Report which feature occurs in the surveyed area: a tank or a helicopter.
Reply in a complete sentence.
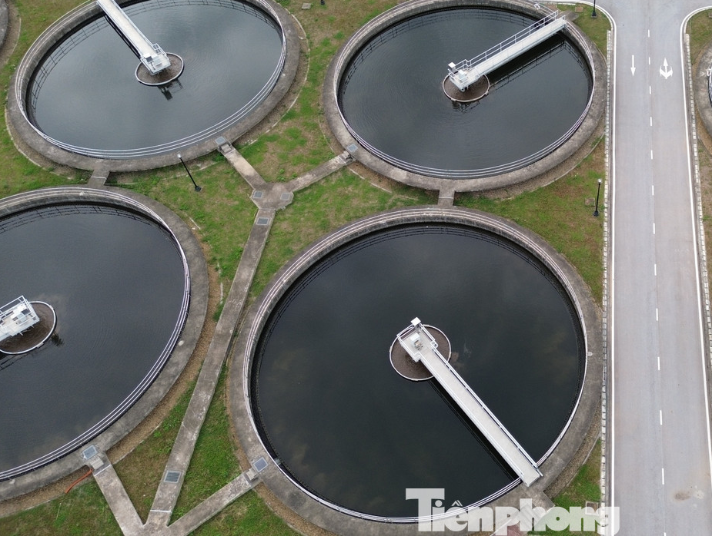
There is a tank in the scene.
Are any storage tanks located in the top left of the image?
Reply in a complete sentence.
Yes, a storage tank can be seen in the top left of the image.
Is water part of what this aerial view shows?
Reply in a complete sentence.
Yes, the picture does contain water.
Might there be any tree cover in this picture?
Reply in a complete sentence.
No, tree cover can't be seen anywhere here.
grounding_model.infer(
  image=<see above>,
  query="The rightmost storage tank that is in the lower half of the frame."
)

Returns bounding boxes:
[230,204,606,536]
